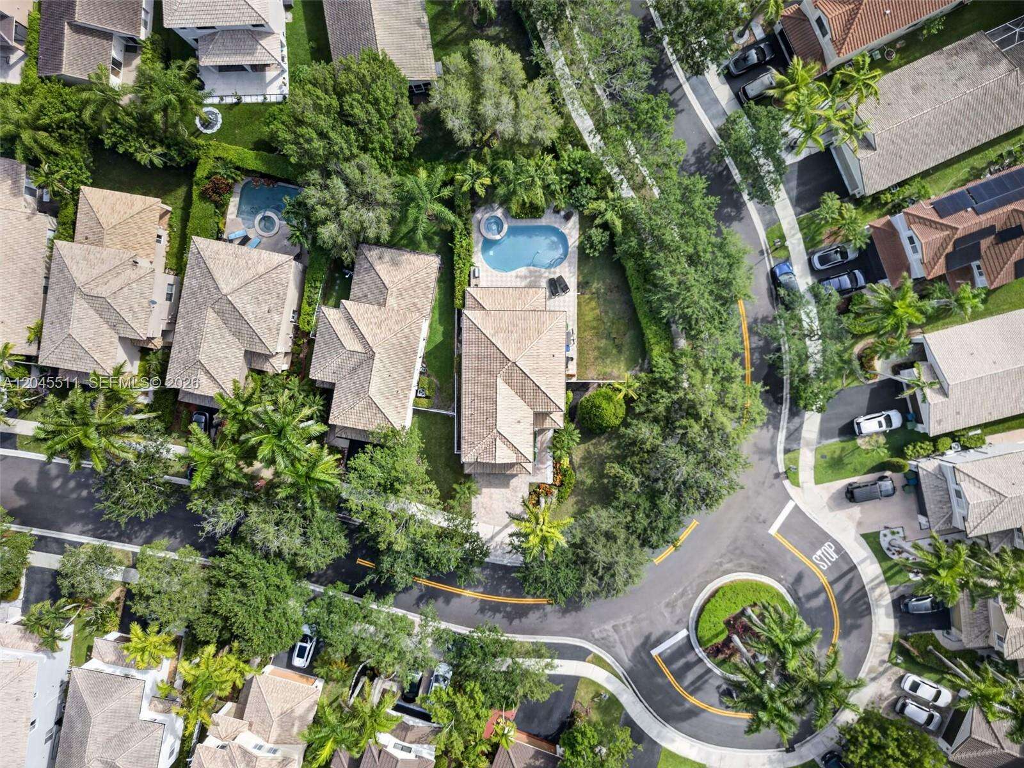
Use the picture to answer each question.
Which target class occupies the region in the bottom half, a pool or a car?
car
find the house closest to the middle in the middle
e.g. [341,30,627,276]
[461,286,567,476]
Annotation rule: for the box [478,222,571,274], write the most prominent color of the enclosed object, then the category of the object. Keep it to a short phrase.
blue swimming pool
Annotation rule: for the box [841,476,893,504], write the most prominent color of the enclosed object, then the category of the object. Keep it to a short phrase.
gray car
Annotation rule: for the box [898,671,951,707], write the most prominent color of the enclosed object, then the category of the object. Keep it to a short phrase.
white car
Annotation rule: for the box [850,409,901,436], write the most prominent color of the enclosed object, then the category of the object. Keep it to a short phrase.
white car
